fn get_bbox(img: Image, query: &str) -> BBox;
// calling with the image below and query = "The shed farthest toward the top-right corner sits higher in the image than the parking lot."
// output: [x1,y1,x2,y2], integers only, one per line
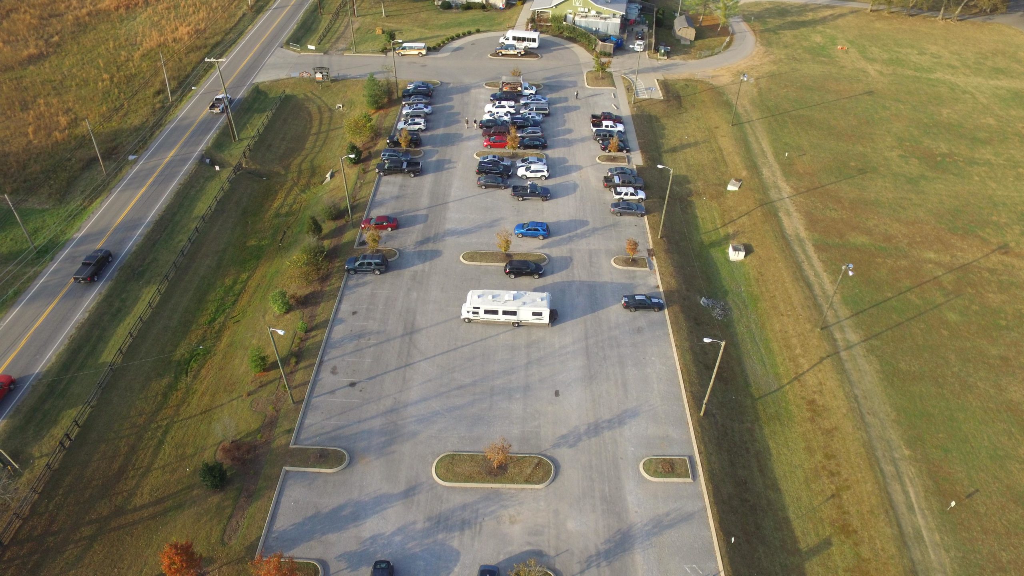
[675,12,696,43]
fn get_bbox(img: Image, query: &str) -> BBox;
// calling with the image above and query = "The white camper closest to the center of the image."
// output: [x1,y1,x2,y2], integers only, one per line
[461,287,559,327]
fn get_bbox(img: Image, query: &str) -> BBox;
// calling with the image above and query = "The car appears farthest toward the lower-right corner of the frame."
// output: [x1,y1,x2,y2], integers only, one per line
[621,292,663,311]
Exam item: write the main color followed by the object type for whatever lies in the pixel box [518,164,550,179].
white car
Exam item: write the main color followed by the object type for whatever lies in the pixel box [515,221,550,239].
blue car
